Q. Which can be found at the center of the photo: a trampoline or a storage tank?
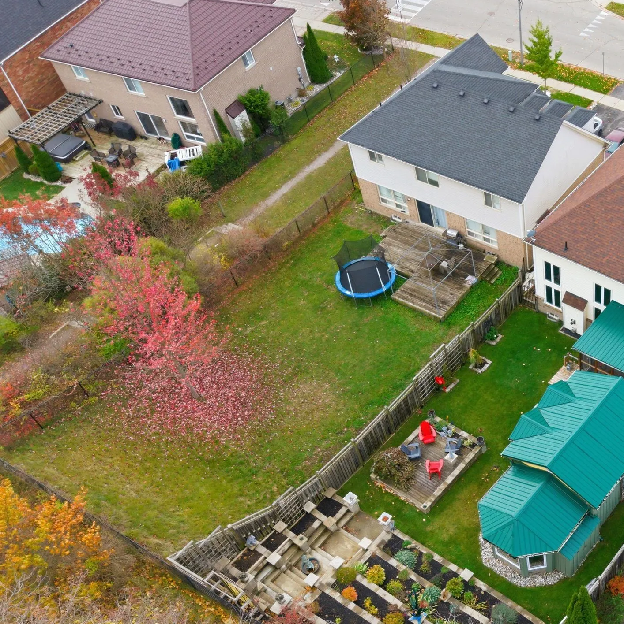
trampoline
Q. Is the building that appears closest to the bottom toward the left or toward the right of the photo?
right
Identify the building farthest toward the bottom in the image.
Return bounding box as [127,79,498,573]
[477,369,624,577]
